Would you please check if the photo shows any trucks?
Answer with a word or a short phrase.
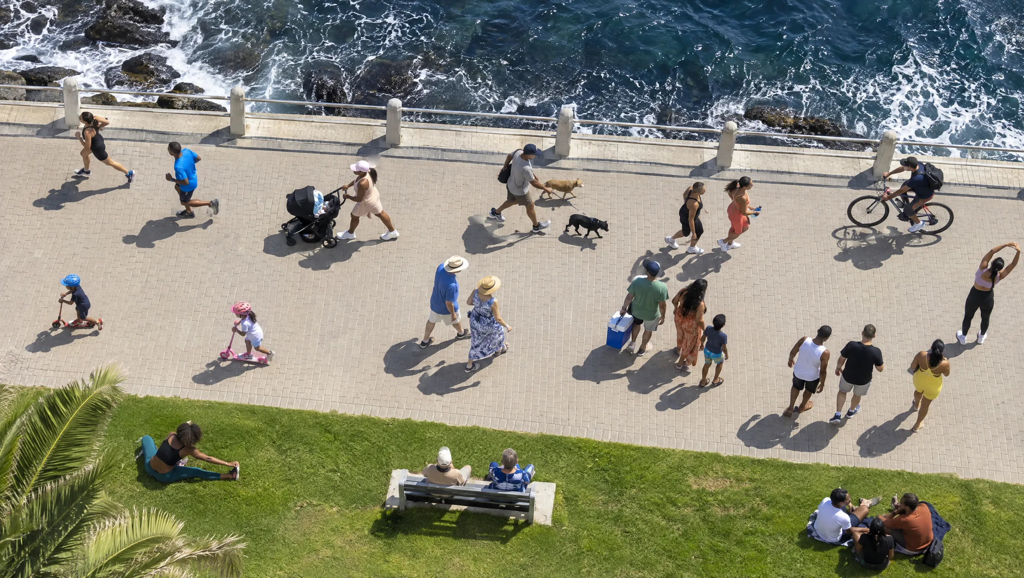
No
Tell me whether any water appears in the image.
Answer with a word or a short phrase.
Yes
